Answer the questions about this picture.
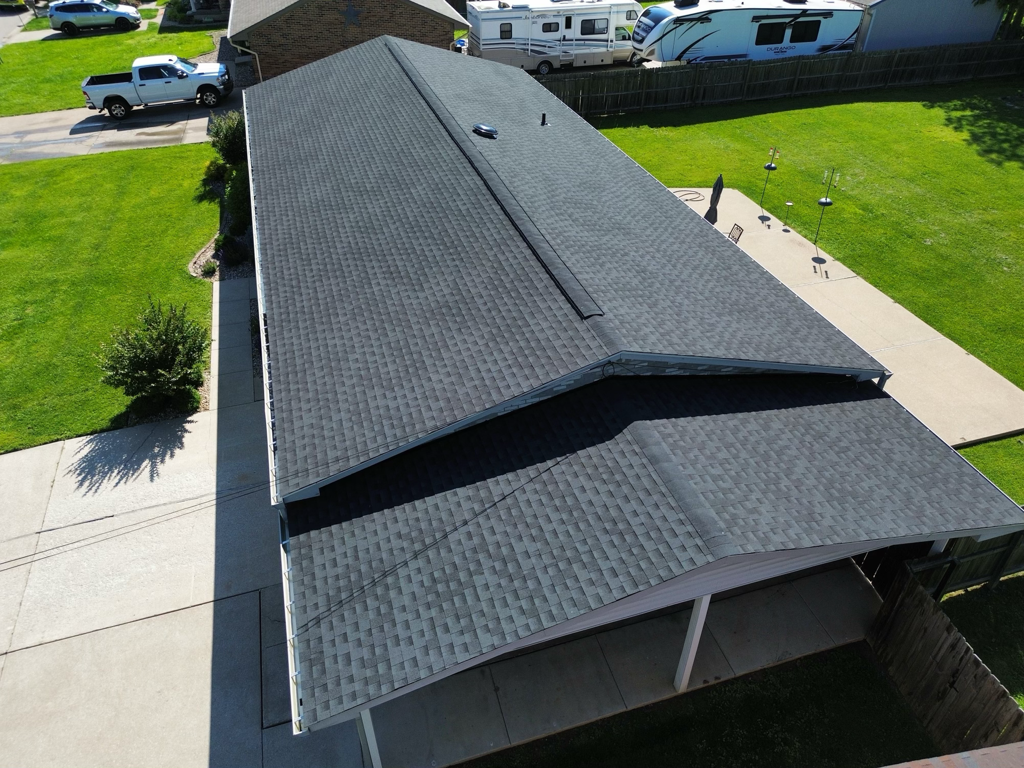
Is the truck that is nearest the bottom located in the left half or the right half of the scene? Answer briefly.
left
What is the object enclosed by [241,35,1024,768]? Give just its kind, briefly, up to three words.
house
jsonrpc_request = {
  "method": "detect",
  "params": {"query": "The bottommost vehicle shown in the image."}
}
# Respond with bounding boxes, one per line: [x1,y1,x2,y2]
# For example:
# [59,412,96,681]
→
[80,53,236,117]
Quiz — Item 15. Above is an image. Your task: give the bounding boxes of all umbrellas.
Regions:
[704,173,722,227]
